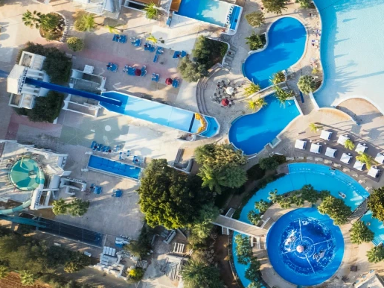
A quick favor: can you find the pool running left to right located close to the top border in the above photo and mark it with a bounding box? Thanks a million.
[176,0,244,34]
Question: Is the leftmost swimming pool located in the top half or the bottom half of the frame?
bottom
